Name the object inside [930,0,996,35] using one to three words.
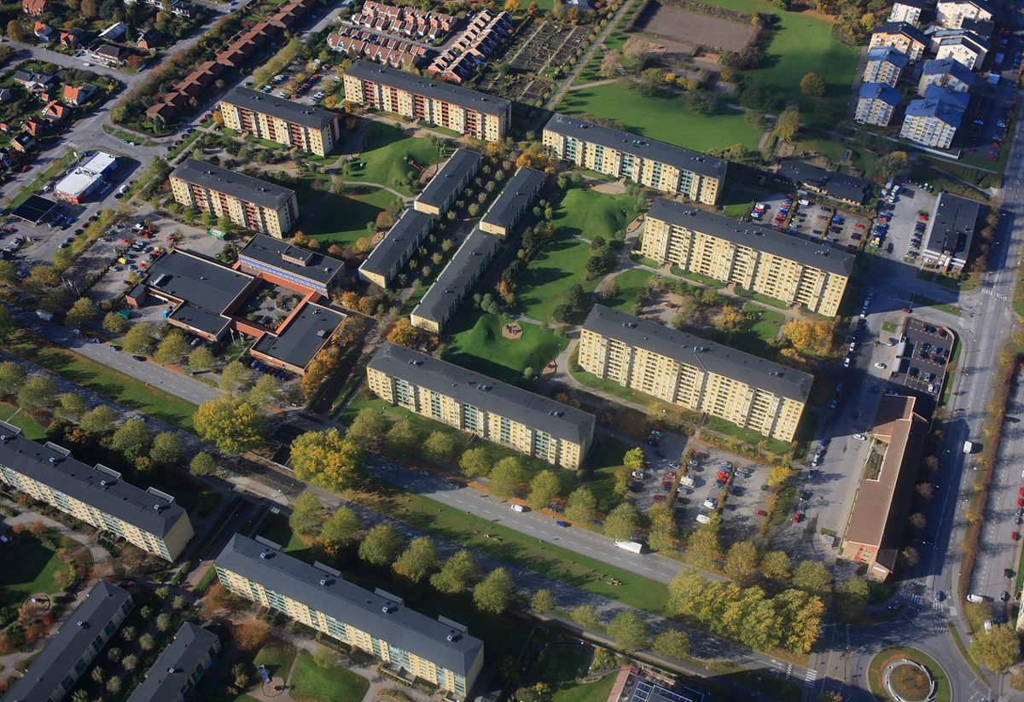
building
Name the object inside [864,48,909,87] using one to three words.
building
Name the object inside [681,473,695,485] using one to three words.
vehicle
